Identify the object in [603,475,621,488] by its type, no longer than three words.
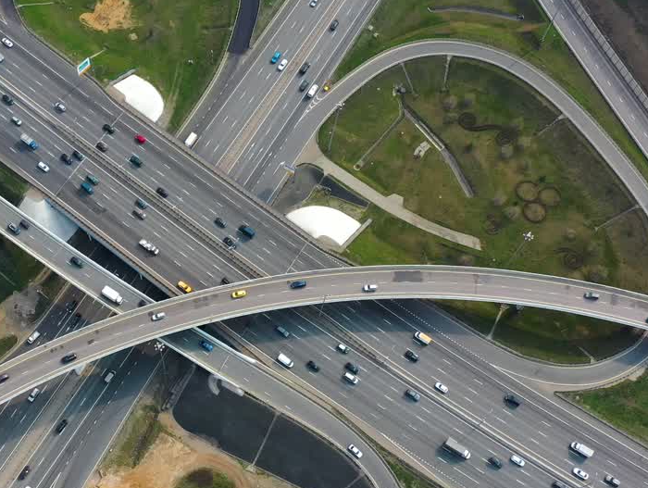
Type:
vehicle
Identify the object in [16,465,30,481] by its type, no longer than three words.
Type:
vehicle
